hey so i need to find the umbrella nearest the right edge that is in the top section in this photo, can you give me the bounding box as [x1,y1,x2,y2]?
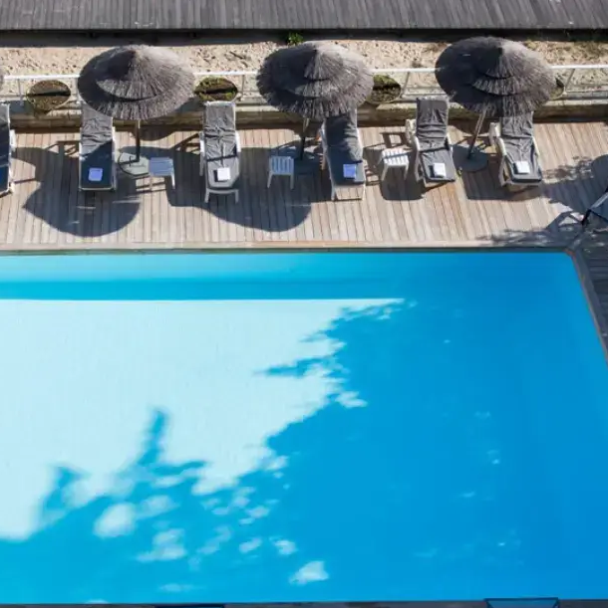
[439,41,556,172]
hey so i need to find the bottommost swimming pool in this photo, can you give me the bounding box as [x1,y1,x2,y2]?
[0,256,608,607]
